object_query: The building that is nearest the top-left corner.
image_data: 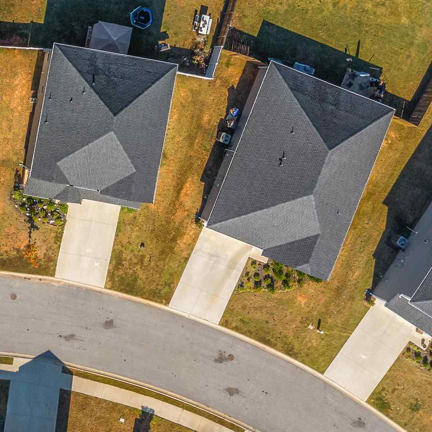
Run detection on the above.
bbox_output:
[18,43,179,209]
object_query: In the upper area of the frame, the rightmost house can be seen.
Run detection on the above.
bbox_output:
[196,62,395,282]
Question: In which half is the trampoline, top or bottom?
top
